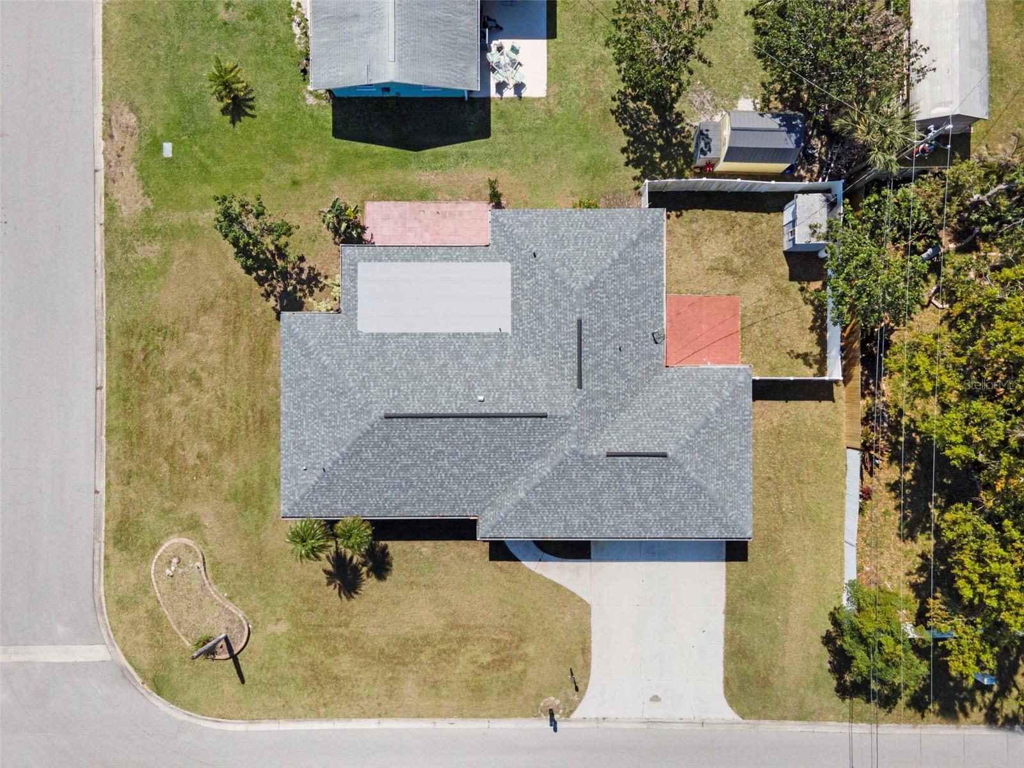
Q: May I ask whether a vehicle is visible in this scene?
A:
No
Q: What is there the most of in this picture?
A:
grass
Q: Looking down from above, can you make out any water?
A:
No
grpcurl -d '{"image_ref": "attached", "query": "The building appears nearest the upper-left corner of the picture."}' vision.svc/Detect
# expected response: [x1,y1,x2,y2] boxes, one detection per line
[308,0,489,98]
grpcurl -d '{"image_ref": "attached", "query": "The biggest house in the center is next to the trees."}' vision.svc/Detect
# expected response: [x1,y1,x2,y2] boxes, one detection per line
[281,208,753,542]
